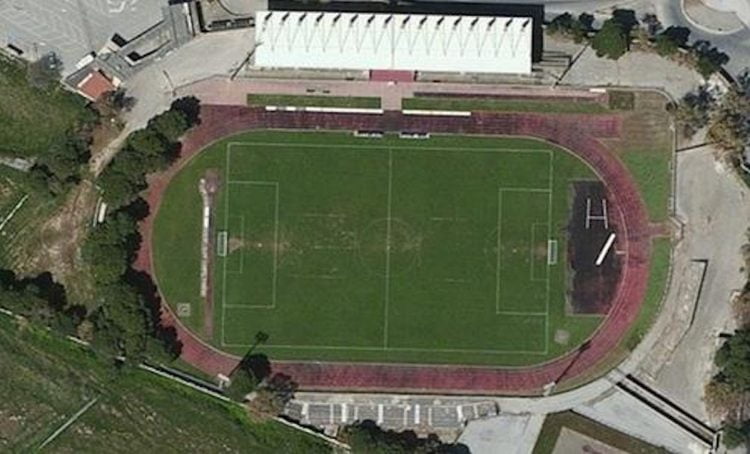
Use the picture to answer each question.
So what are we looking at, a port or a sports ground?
sports ground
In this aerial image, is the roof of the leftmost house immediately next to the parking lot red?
Yes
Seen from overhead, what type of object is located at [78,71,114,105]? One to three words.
house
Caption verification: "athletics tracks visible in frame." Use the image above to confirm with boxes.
[125,104,653,392]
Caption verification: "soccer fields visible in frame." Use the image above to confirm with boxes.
[220,141,556,357]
